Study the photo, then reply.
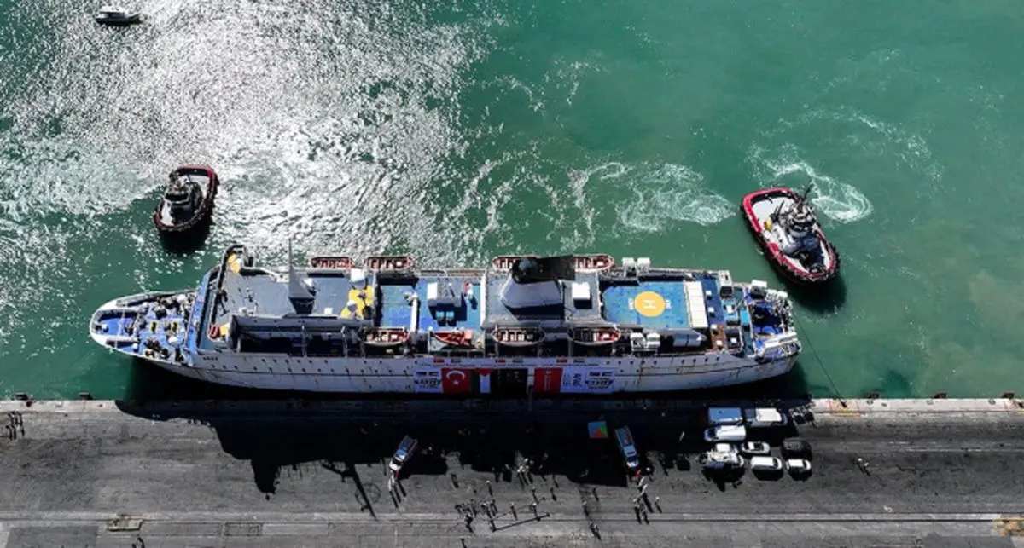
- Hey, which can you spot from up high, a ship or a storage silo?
ship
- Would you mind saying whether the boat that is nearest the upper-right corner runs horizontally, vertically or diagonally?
diagonally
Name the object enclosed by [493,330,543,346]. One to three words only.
boat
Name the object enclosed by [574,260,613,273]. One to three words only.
boat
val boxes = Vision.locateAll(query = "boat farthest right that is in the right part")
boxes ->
[740,184,851,285]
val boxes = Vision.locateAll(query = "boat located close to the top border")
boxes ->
[94,3,143,22]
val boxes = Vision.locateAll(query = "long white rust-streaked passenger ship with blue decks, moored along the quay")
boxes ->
[83,233,799,395]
